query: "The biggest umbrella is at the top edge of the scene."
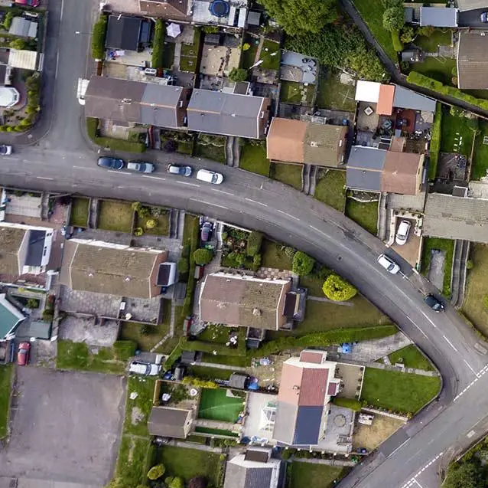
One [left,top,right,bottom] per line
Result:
[166,24,182,37]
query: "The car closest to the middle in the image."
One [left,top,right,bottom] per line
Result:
[199,218,213,244]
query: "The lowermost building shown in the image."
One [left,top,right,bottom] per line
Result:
[224,443,281,488]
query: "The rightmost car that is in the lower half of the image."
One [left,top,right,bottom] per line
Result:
[421,289,446,313]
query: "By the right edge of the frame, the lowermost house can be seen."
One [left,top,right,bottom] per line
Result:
[422,185,488,243]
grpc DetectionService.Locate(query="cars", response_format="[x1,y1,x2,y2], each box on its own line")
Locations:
[96,155,126,170]
[13,0,41,7]
[395,219,413,245]
[376,251,402,274]
[194,169,225,184]
[127,159,154,173]
[199,218,213,244]
[421,289,446,313]
[0,142,16,155]
[478,10,488,23]
[16,340,31,366]
[167,163,194,177]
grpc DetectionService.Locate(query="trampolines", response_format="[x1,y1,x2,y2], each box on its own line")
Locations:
[206,0,228,17]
